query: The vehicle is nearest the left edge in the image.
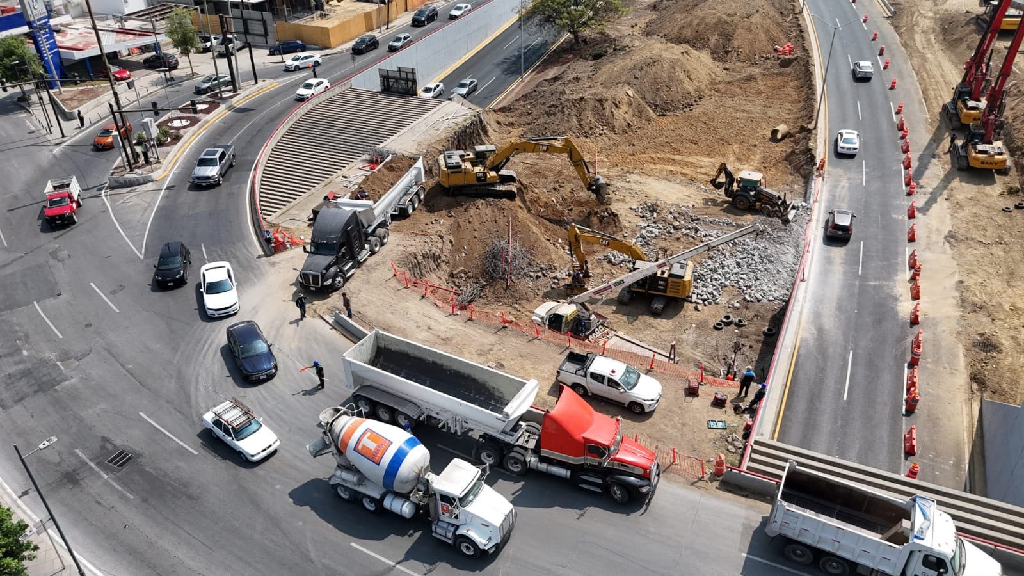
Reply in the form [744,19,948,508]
[41,168,81,224]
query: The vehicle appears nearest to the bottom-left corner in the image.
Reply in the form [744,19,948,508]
[202,398,280,462]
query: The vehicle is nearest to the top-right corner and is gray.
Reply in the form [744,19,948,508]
[852,59,874,78]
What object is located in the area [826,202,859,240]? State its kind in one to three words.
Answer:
car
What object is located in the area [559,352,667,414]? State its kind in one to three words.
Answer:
truck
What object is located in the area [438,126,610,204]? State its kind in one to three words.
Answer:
work vehicle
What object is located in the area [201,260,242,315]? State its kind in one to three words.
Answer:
car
